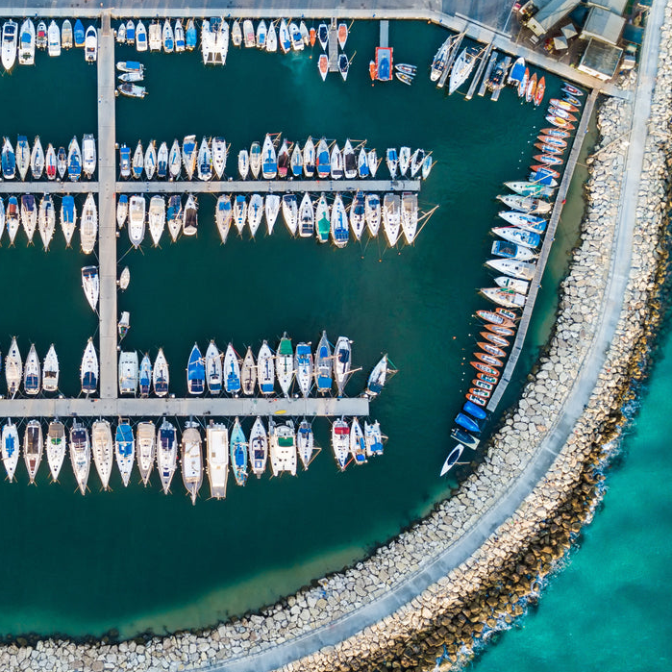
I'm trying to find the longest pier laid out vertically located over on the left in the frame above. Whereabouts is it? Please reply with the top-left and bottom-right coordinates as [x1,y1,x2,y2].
[97,41,116,398]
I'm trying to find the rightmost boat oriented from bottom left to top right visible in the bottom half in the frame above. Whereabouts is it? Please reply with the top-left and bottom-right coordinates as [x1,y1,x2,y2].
[440,443,464,476]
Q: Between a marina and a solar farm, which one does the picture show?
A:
marina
